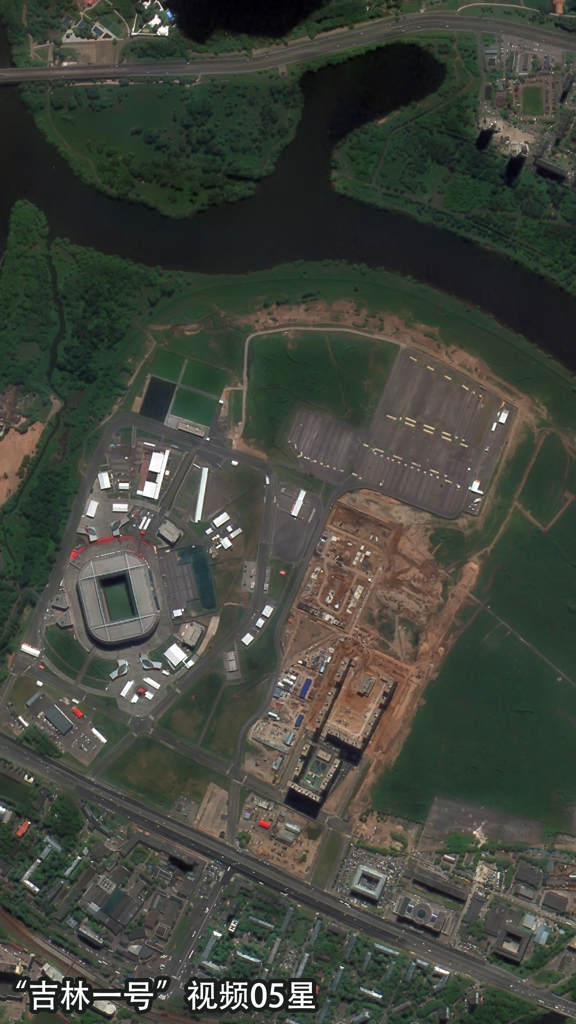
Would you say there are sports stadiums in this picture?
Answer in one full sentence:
Yes, there's a sports stadium here.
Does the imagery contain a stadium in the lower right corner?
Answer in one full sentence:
No, in the lower right corner there is no stadium.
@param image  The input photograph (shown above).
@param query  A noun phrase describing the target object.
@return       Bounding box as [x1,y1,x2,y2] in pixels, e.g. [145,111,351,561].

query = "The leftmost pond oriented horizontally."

[164,0,333,44]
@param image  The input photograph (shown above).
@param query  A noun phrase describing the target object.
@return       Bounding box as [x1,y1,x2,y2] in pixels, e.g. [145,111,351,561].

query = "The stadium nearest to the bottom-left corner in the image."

[64,535,172,659]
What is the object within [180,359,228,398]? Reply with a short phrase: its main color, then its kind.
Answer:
green sports field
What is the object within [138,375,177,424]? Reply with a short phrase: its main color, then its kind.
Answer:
black sports field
